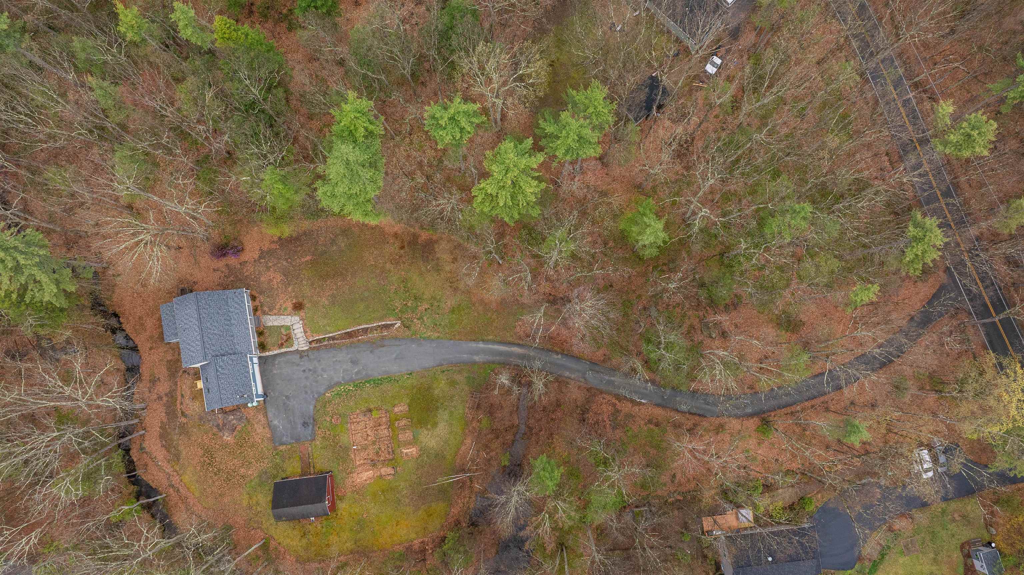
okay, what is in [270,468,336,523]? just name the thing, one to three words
barn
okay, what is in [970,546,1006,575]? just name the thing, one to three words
shed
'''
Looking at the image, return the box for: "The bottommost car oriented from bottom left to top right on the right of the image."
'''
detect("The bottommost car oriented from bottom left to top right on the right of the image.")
[706,54,723,75]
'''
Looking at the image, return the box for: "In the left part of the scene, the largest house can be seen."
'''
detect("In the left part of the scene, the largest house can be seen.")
[160,288,263,410]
